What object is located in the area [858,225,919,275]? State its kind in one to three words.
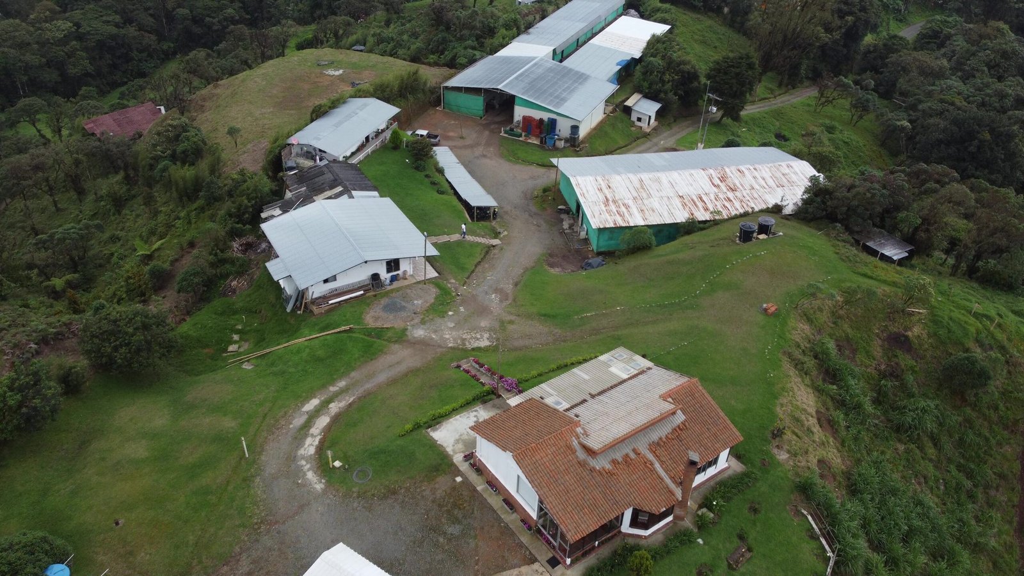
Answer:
shed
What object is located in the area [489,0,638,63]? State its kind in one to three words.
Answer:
building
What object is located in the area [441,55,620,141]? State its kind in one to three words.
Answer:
barn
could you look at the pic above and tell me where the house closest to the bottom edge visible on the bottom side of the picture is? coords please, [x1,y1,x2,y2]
[468,347,744,568]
